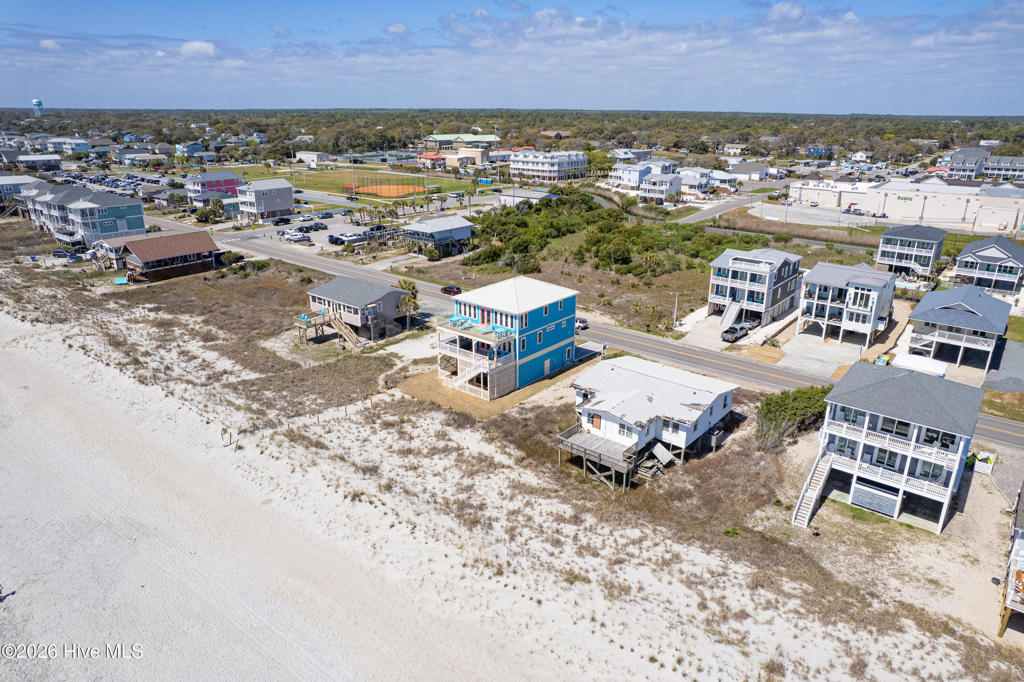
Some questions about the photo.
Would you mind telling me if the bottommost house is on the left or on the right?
right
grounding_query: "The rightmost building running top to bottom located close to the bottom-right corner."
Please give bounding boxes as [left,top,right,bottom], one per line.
[986,495,1024,636]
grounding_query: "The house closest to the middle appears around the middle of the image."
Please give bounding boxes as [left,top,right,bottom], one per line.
[435,276,582,401]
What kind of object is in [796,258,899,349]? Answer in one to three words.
house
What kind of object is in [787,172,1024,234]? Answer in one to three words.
building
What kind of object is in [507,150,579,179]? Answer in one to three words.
building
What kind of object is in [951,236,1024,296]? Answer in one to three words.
house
